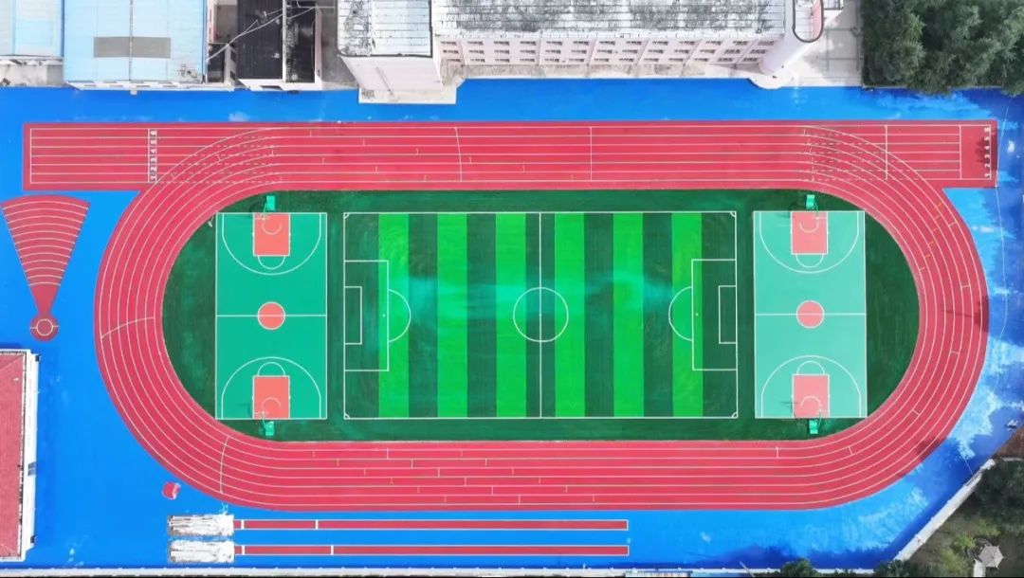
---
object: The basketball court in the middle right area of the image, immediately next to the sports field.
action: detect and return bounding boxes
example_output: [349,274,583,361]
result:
[753,211,867,418]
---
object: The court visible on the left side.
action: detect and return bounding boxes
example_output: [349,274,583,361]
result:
[216,212,327,419]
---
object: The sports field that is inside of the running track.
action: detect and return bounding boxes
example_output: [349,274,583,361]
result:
[344,211,737,419]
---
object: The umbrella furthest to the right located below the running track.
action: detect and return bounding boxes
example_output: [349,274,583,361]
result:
[976,546,1002,568]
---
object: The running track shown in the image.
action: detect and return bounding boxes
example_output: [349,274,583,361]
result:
[23,120,998,511]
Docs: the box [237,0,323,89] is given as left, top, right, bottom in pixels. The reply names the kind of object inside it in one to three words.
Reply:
building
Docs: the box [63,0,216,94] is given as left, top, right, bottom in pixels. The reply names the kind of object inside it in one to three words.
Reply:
shed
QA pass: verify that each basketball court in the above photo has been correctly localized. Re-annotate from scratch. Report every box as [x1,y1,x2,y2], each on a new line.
[216,212,327,419]
[753,211,867,418]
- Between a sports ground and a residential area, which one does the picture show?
sports ground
